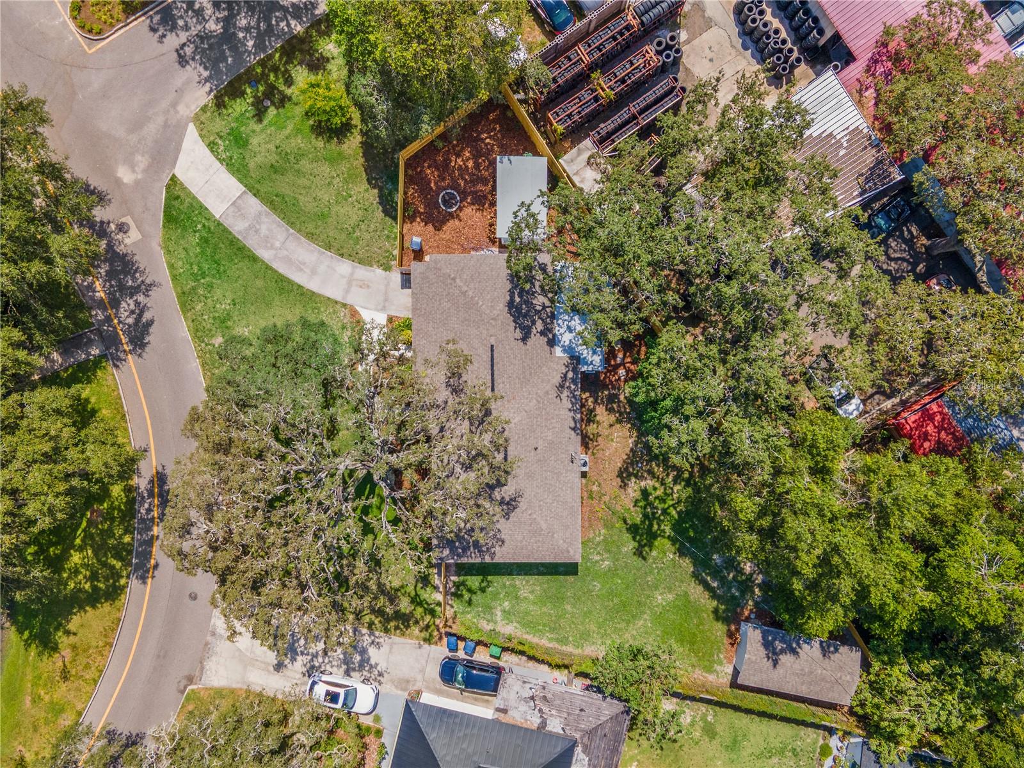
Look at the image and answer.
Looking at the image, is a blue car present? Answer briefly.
Yes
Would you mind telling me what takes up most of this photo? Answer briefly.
trees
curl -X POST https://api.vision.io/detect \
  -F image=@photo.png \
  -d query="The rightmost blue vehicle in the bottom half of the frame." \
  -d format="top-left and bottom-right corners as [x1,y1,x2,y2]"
[438,651,507,693]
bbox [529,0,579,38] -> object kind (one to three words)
car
